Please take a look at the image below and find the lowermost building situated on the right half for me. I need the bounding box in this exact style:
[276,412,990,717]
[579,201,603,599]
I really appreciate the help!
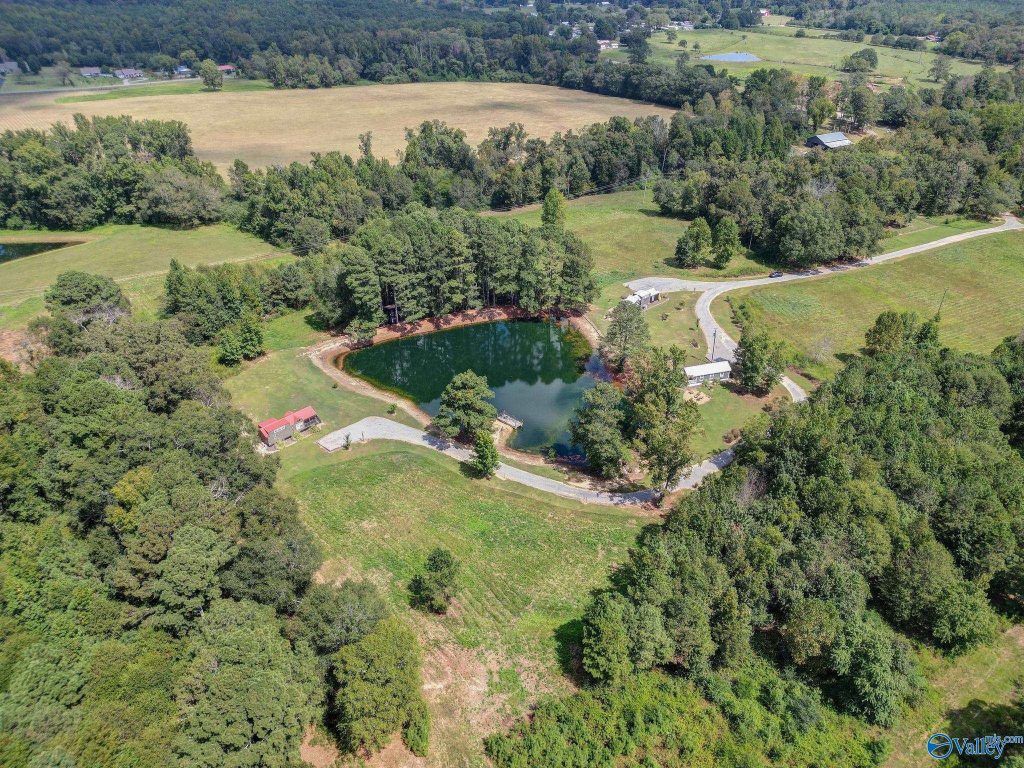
[683,360,733,385]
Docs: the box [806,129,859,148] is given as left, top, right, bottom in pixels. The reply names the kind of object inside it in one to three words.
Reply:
barn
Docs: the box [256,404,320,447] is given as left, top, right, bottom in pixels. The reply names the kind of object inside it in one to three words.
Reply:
building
